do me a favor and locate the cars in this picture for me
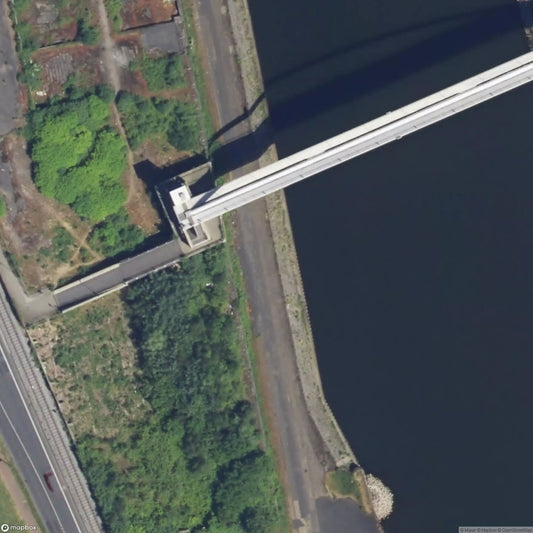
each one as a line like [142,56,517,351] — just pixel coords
[44,473,58,492]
